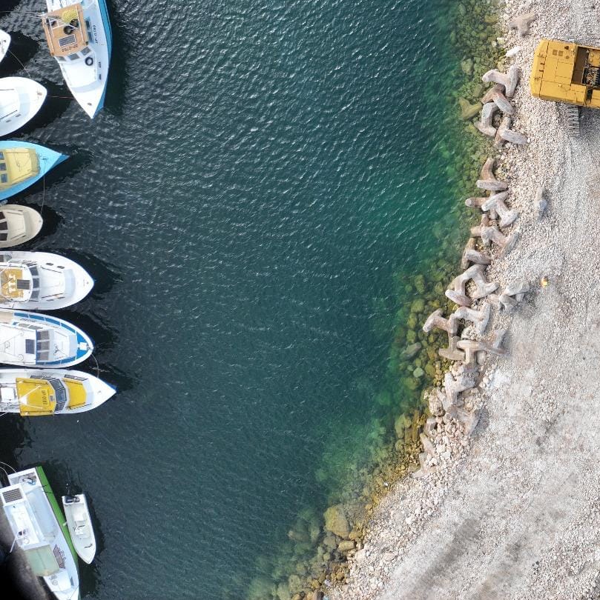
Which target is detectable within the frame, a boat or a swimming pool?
boat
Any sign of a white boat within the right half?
No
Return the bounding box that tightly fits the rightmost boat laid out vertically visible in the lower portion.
[67,486,100,565]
